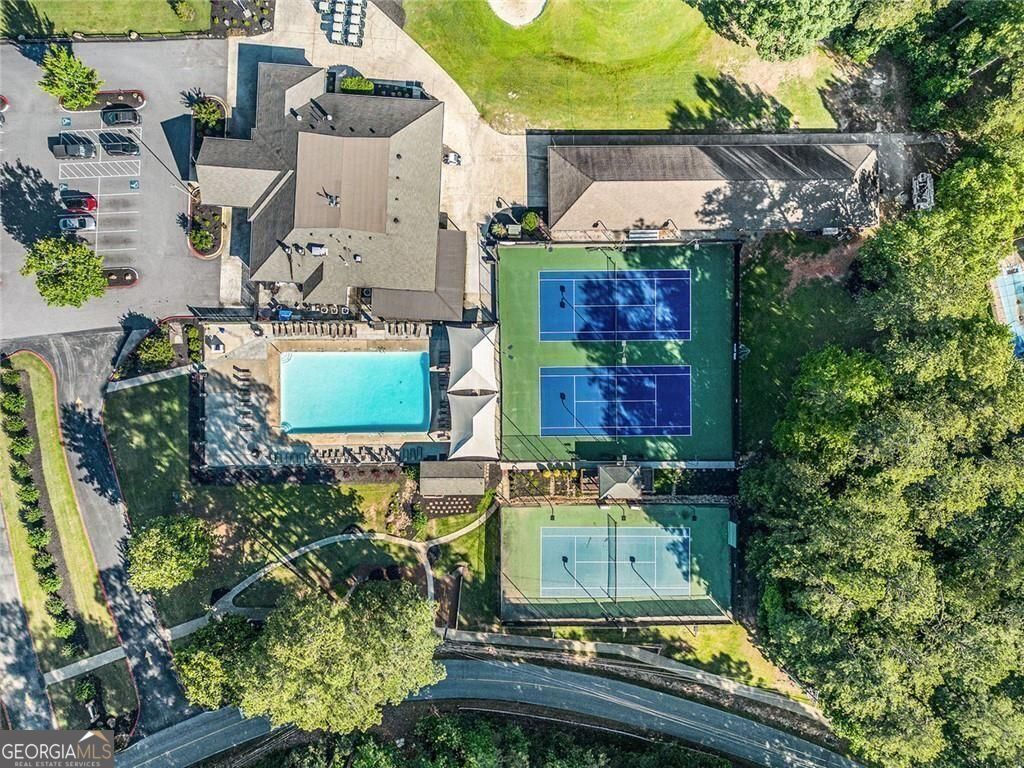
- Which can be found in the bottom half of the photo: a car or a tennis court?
tennis court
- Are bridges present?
No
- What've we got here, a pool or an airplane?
pool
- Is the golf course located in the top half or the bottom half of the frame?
top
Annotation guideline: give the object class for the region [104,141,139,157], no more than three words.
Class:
car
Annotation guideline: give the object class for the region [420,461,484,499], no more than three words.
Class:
building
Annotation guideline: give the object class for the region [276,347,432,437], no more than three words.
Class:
swimming pool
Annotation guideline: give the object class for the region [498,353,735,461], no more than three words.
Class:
tennis court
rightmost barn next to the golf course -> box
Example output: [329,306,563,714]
[549,144,880,231]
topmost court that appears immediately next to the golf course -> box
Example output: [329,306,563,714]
[498,245,735,353]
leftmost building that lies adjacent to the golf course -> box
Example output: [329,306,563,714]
[196,62,466,321]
